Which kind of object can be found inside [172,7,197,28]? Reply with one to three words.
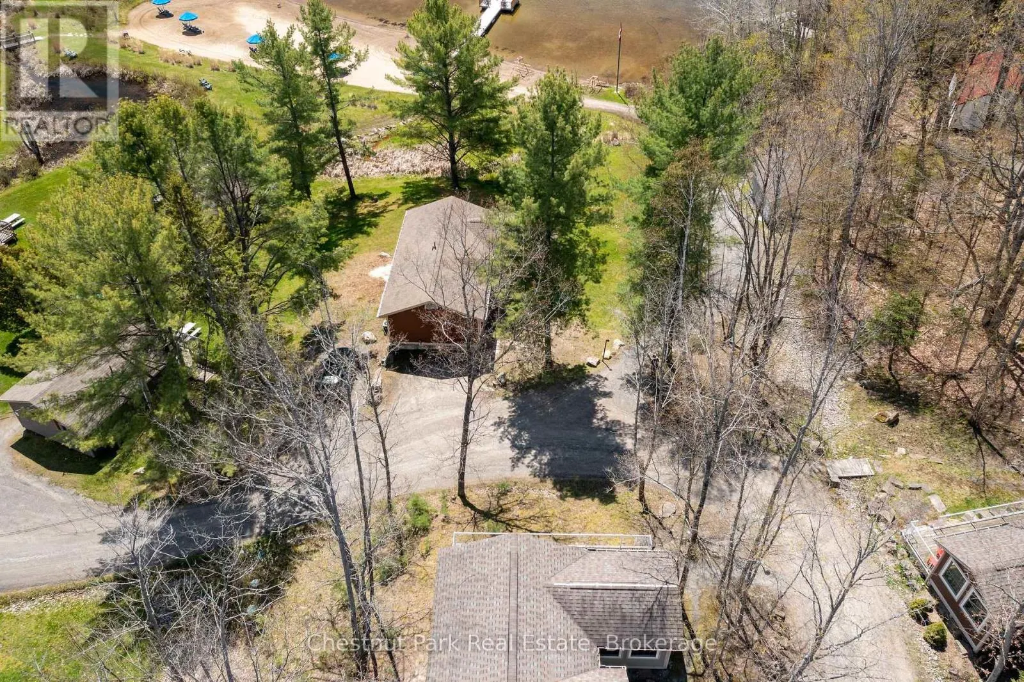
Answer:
umbrella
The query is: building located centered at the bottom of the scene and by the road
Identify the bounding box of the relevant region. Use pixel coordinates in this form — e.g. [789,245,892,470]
[426,534,689,682]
